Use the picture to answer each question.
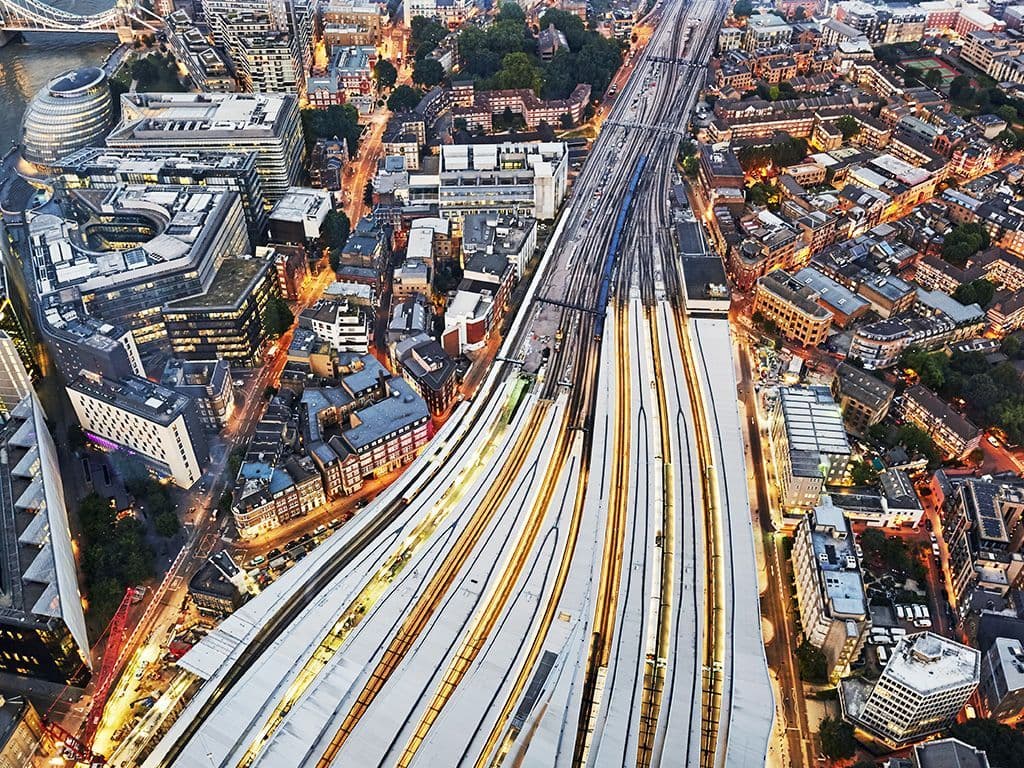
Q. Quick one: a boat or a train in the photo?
train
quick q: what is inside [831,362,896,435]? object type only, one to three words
building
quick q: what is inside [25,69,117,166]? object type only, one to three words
building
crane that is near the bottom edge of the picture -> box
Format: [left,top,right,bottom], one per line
[37,583,136,768]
